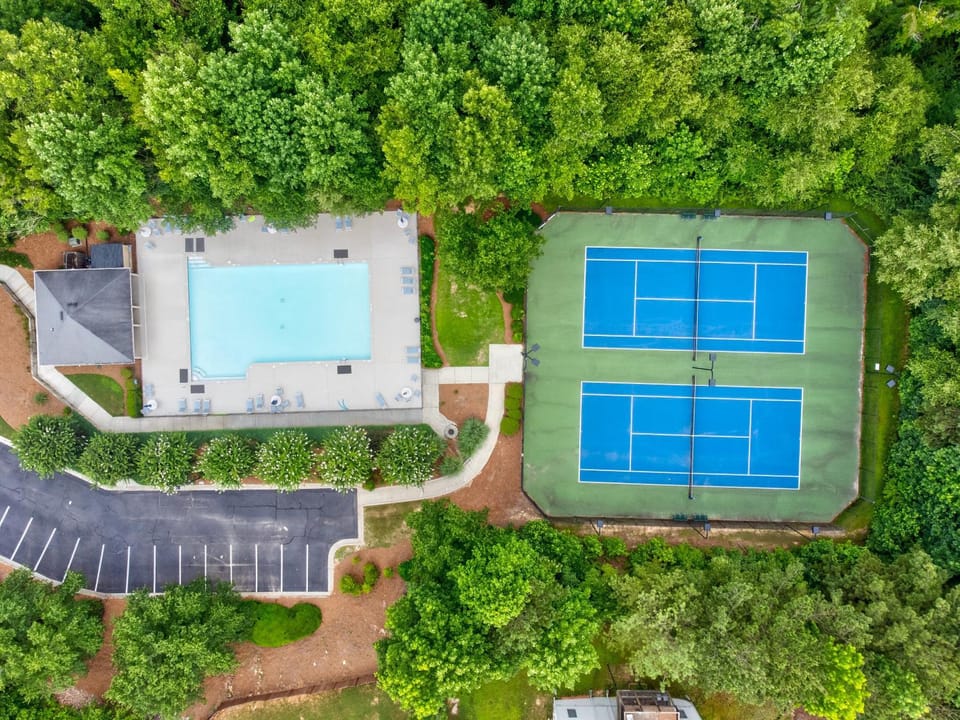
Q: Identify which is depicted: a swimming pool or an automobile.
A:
swimming pool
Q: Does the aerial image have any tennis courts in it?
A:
Yes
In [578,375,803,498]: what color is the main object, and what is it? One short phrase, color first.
blue tennis court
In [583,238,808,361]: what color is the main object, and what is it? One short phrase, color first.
blue tennis court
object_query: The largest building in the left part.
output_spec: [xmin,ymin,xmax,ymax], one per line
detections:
[32,266,149,367]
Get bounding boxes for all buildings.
[32,266,149,367]
[552,676,701,720]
